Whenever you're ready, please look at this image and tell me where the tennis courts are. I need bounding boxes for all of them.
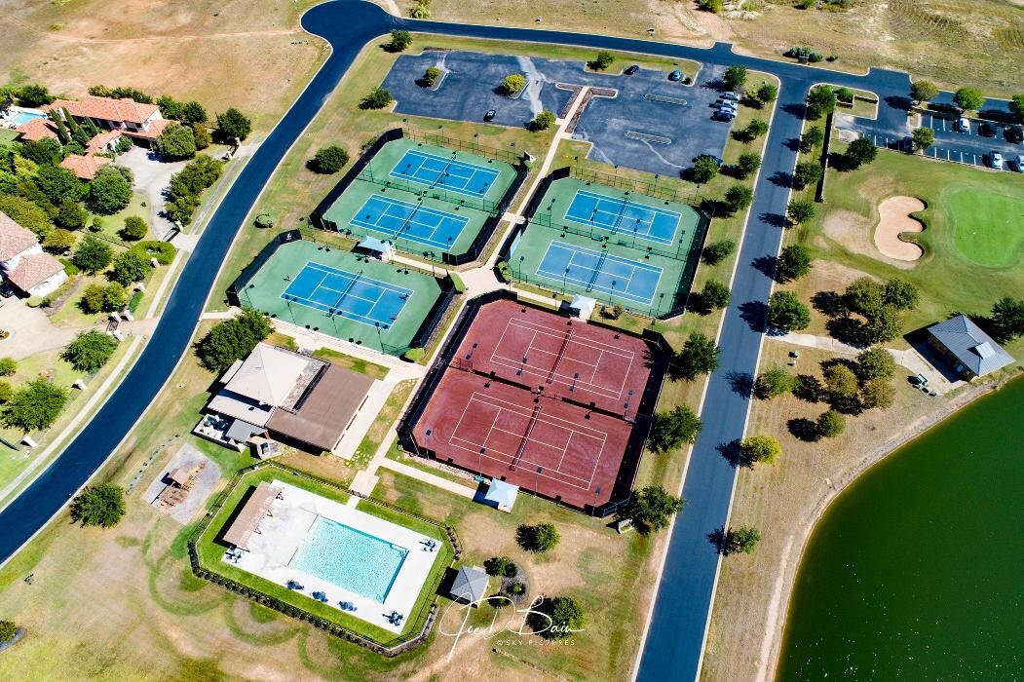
[415,366,650,508]
[449,300,668,425]
[240,240,448,357]
[508,221,698,319]
[358,138,523,213]
[327,179,496,261]
[530,178,711,263]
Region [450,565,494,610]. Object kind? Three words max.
gazebo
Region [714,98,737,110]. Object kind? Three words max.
vehicle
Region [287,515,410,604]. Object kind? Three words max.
swimming pool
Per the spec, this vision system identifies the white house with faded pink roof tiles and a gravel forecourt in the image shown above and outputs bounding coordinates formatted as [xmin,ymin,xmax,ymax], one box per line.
[0,212,69,297]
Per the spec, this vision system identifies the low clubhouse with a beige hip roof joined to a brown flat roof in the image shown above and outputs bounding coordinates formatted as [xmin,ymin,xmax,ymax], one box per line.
[209,342,376,456]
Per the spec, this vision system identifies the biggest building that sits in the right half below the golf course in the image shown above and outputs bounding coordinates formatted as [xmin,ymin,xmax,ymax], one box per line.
[922,315,1017,385]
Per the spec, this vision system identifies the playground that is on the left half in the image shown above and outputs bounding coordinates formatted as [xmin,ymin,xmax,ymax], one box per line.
[145,455,203,520]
